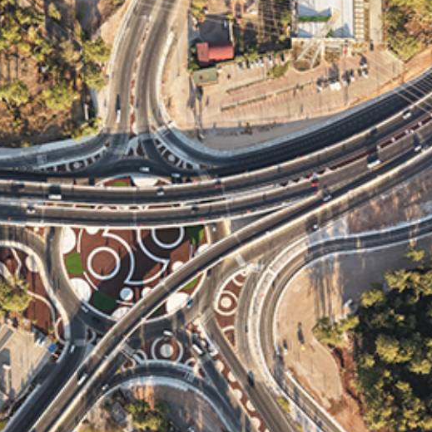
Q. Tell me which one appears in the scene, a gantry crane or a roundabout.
roundabout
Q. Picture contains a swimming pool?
No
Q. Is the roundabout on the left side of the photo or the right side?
left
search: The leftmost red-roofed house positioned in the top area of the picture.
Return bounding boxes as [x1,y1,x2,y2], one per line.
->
[195,41,209,64]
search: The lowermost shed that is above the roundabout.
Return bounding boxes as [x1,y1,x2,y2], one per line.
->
[193,68,219,83]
